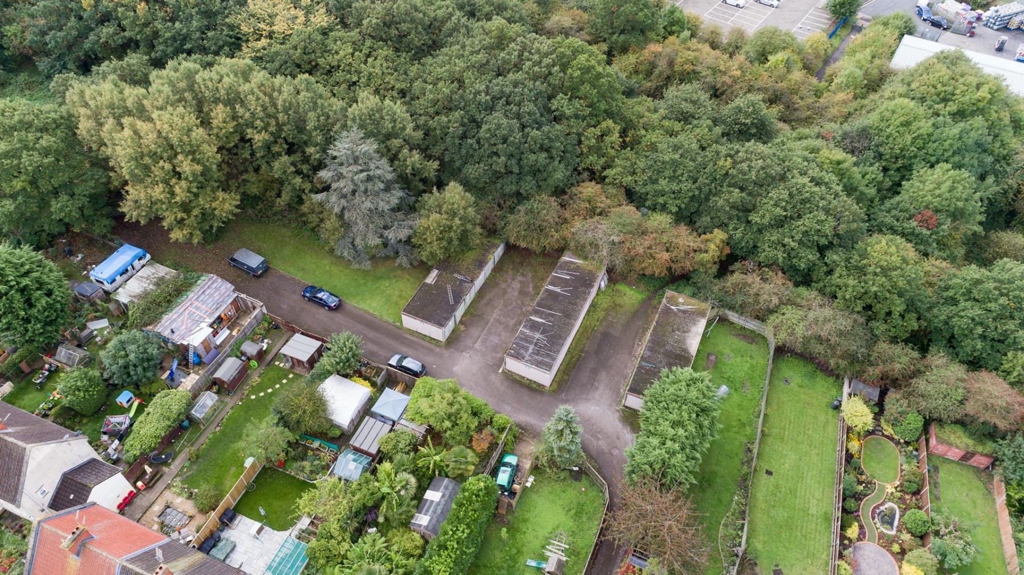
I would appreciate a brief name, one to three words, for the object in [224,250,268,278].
van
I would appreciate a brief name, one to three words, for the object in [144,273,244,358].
building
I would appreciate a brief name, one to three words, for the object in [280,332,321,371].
shed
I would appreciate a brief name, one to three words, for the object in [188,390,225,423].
greenhouse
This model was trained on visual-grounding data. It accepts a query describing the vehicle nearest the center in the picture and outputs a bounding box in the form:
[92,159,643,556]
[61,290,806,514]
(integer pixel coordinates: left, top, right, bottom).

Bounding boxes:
[386,353,428,378]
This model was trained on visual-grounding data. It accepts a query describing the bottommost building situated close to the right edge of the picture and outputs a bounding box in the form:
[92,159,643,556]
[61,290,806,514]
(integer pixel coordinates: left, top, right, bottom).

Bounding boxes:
[922,421,996,472]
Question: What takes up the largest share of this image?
trees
